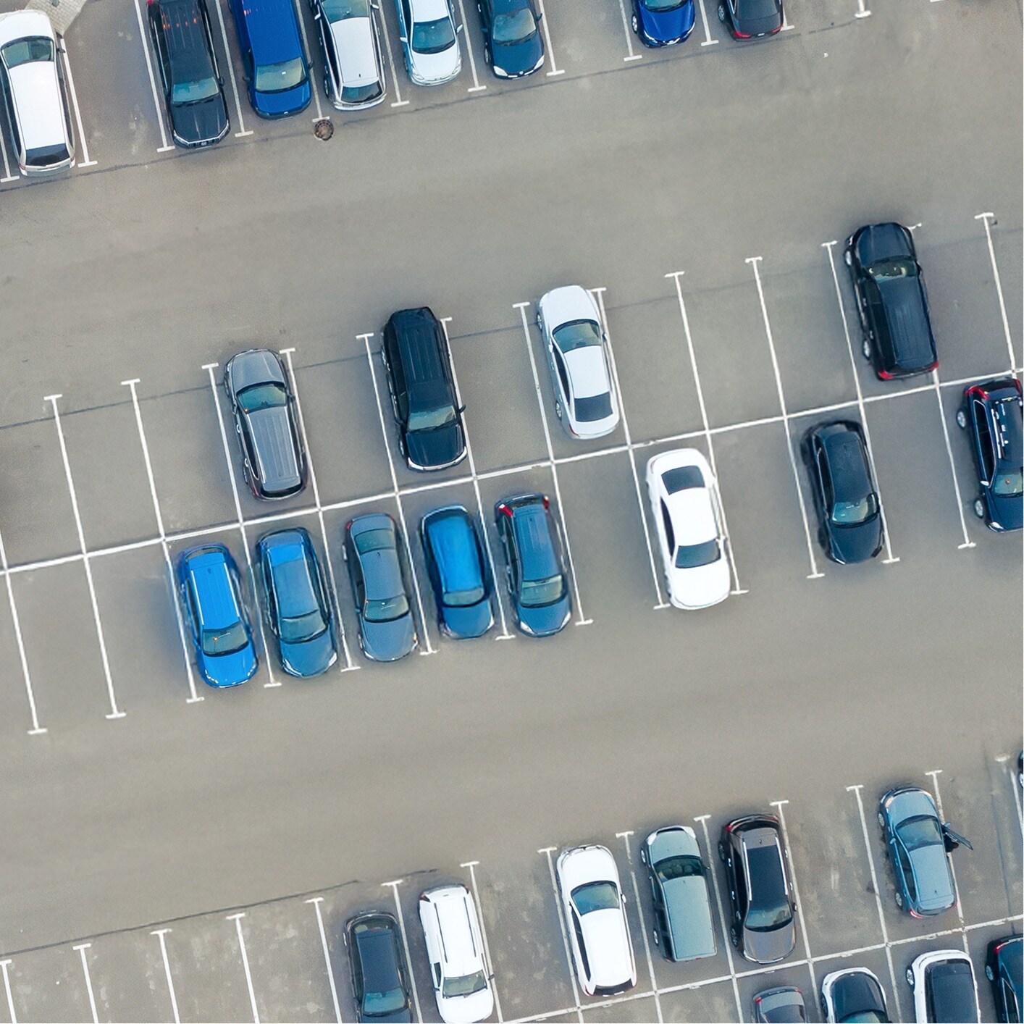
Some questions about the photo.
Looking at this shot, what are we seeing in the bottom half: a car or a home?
car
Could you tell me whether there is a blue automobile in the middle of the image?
Yes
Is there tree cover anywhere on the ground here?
No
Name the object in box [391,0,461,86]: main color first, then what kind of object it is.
white car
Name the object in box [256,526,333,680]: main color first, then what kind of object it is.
blue car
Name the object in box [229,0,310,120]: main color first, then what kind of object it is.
blue van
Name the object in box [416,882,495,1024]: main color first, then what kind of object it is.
white van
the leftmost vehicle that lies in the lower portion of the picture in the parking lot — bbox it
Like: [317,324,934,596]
[178,545,254,689]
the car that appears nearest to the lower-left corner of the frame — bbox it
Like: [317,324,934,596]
[346,909,422,1024]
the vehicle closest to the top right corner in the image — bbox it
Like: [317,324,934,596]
[716,0,782,41]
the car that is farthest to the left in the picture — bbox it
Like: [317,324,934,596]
[0,9,77,176]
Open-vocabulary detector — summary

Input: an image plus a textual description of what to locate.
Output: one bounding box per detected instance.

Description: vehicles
[718,813,804,967]
[178,545,254,689]
[907,948,986,1024]
[229,0,310,120]
[391,0,461,86]
[415,504,493,641]
[385,307,466,472]
[985,933,1024,1024]
[716,0,782,41]
[492,494,572,638]
[229,347,309,501]
[146,0,229,149]
[816,966,895,1024]
[641,825,722,966]
[346,909,422,1024]
[0,9,77,176]
[541,284,624,441]
[747,986,813,1024]
[256,526,333,680]
[343,512,416,663]
[556,843,638,1001]
[961,380,1024,533]
[470,0,541,80]
[645,447,728,612]
[876,786,970,921]
[847,221,940,381]
[800,419,884,566]
[308,0,385,111]
[416,882,495,1024]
